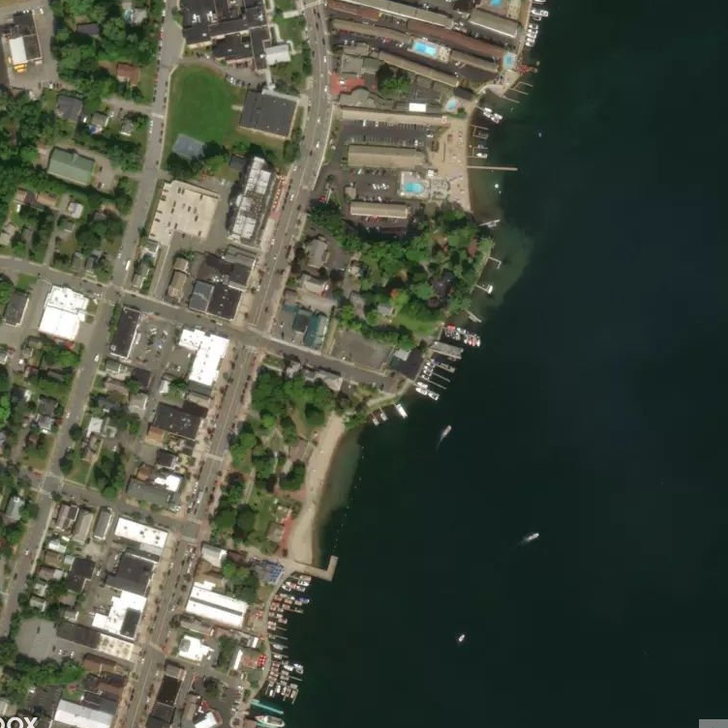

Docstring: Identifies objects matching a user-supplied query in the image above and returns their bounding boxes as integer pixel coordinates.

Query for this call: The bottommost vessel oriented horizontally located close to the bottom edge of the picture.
[255,716,285,728]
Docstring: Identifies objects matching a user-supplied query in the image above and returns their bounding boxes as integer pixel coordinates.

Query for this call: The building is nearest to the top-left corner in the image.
[9,10,42,65]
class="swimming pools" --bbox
[483,0,509,14]
[445,95,466,113]
[400,172,449,198]
[408,36,451,64]
[502,52,516,69]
